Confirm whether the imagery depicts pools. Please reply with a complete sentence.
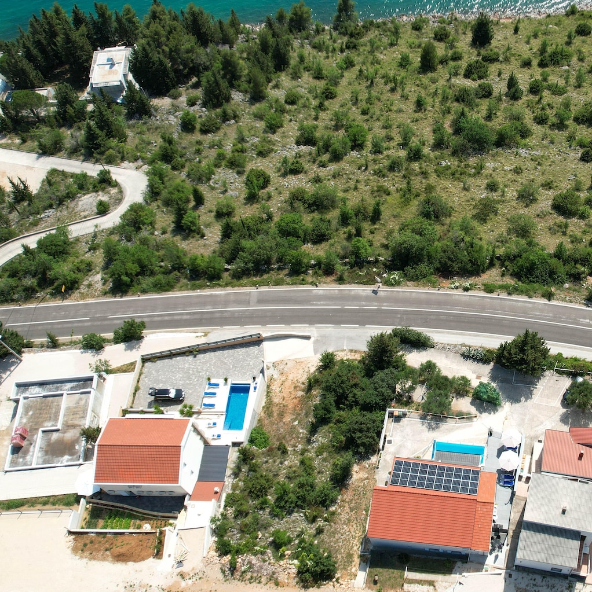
Yes, the frame does contain a pool.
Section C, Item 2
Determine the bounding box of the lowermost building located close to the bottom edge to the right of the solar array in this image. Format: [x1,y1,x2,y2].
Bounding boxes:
[517,473,592,578]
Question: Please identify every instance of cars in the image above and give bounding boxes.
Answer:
[561,375,577,405]
[145,386,185,403]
